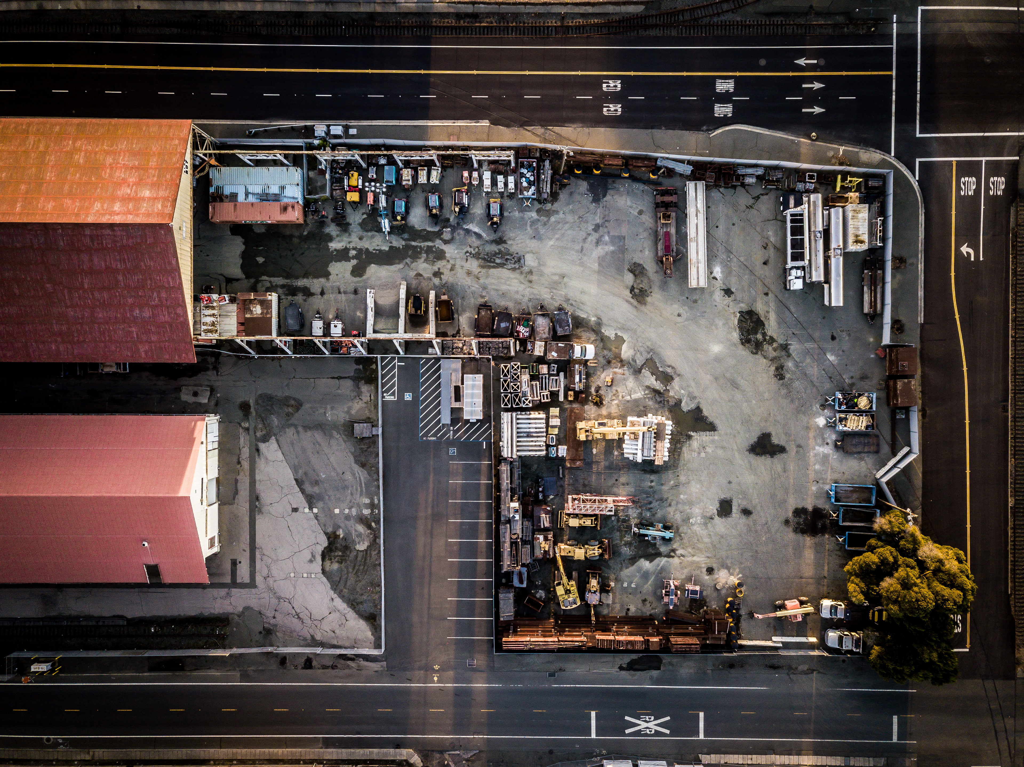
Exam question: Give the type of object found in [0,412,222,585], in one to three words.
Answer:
shed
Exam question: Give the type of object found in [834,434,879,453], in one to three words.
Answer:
trailer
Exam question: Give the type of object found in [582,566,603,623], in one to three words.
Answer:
work vehicle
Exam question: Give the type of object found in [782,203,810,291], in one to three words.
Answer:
truck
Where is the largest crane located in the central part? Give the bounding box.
[576,419,658,440]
